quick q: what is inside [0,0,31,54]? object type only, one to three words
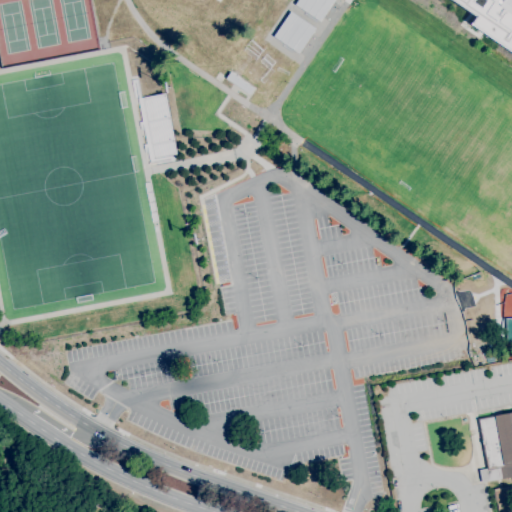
tennis court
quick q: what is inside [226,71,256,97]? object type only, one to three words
shed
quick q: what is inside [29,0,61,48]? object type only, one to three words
tennis court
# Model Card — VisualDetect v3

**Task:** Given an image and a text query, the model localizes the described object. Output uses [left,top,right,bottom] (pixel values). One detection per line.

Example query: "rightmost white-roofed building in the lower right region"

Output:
[480,413,512,482]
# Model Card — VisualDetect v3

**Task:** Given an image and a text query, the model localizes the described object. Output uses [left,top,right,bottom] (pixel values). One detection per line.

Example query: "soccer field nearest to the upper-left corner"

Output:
[0,50,166,320]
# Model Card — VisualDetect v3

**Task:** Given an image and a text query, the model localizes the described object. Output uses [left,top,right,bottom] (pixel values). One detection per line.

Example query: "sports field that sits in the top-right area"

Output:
[284,0,512,274]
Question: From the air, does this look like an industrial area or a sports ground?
sports ground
